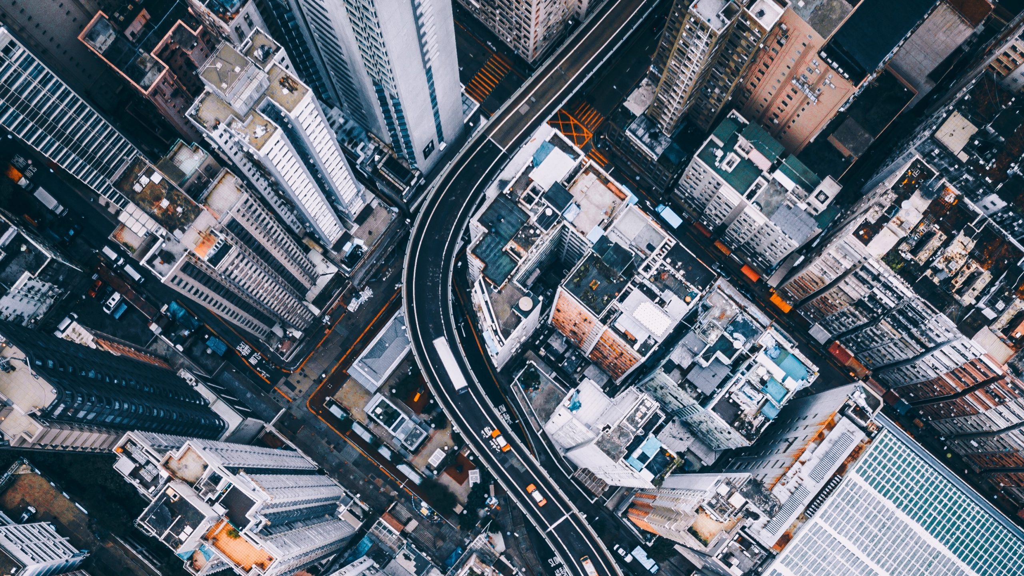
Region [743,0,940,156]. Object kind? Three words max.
building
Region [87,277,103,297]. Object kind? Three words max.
car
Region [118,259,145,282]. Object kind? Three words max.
truck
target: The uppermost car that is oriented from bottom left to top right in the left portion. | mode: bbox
[62,223,80,241]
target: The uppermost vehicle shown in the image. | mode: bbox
[0,159,27,185]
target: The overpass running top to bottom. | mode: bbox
[402,0,654,576]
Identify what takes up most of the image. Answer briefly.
buildings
